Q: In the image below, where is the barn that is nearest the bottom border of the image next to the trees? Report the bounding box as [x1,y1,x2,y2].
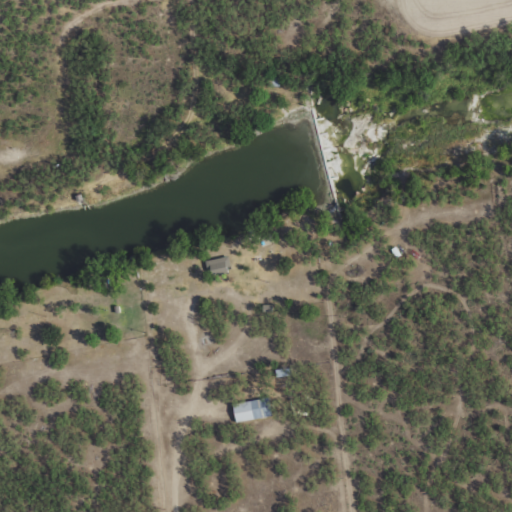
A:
[234,400,272,423]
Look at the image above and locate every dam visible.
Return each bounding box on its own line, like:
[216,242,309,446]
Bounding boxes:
[310,92,342,214]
